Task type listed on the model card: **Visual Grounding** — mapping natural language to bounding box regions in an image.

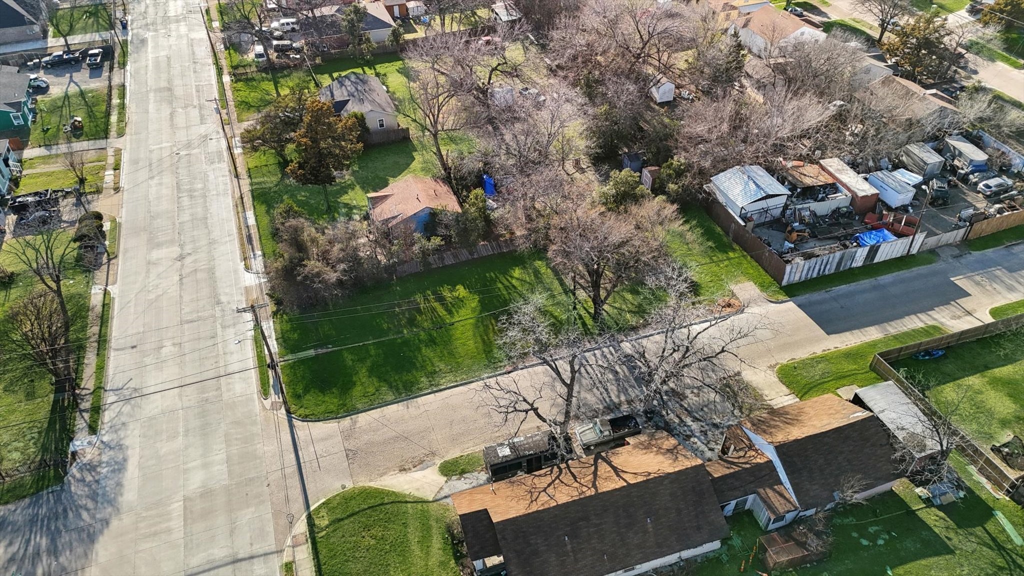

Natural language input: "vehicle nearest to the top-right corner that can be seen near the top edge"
[961,2,979,15]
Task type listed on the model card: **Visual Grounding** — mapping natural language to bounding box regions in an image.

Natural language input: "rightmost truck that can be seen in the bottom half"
[575,409,641,447]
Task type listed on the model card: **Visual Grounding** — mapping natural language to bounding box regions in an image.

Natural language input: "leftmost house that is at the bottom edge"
[450,425,734,576]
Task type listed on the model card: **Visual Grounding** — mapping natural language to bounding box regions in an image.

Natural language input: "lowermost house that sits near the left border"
[0,135,31,204]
